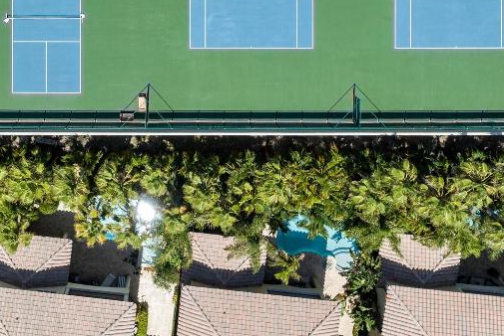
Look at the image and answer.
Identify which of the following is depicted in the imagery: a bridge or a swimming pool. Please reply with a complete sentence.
The one in the frame is a swimming pool.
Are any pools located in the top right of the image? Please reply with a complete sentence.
No, in the top right of the image there is no pool.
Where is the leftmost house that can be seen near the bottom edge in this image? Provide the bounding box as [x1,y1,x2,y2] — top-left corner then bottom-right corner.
[0,232,136,336]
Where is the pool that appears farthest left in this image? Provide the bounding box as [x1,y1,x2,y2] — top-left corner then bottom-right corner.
[93,187,162,268]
